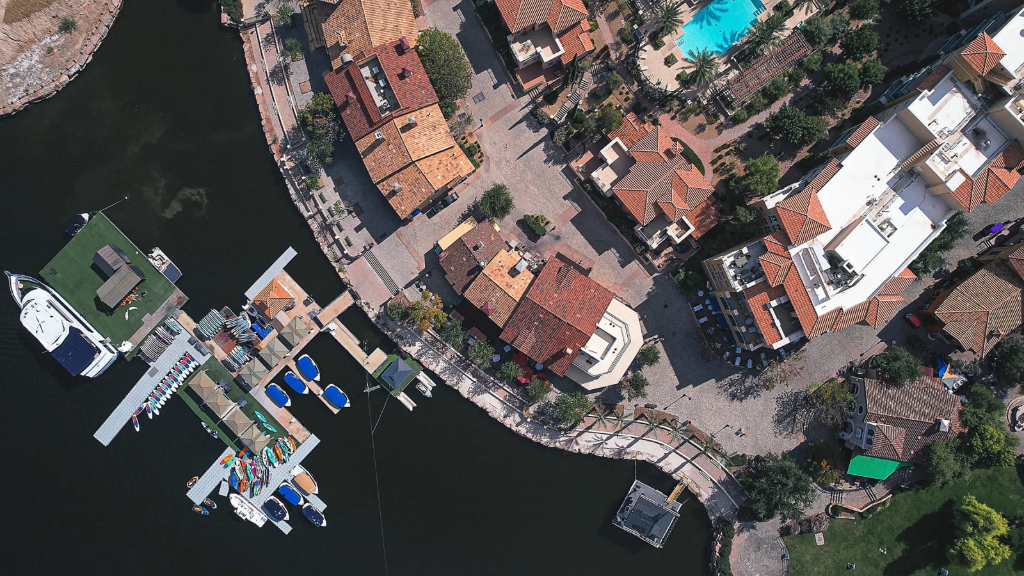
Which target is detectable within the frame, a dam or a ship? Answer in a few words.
ship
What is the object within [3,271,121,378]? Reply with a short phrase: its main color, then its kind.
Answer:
white boat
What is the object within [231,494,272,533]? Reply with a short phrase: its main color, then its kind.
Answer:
white boat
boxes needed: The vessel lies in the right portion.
[612,479,683,548]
